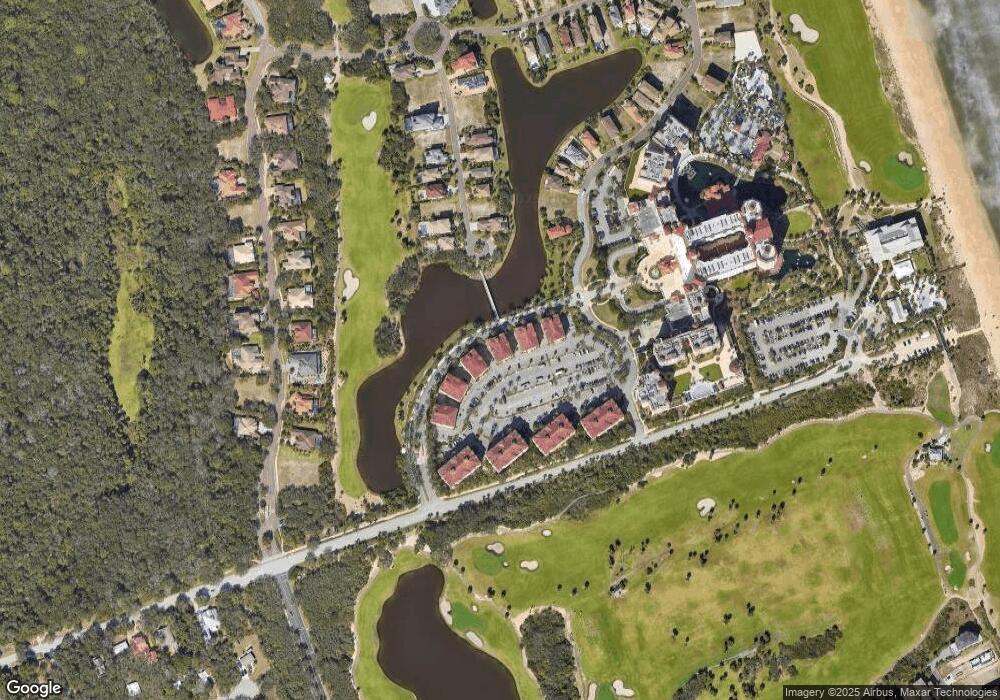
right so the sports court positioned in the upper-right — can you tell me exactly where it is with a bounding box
[734,30,763,62]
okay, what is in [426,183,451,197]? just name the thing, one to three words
house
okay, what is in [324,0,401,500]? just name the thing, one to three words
golf course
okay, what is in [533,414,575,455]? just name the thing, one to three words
building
